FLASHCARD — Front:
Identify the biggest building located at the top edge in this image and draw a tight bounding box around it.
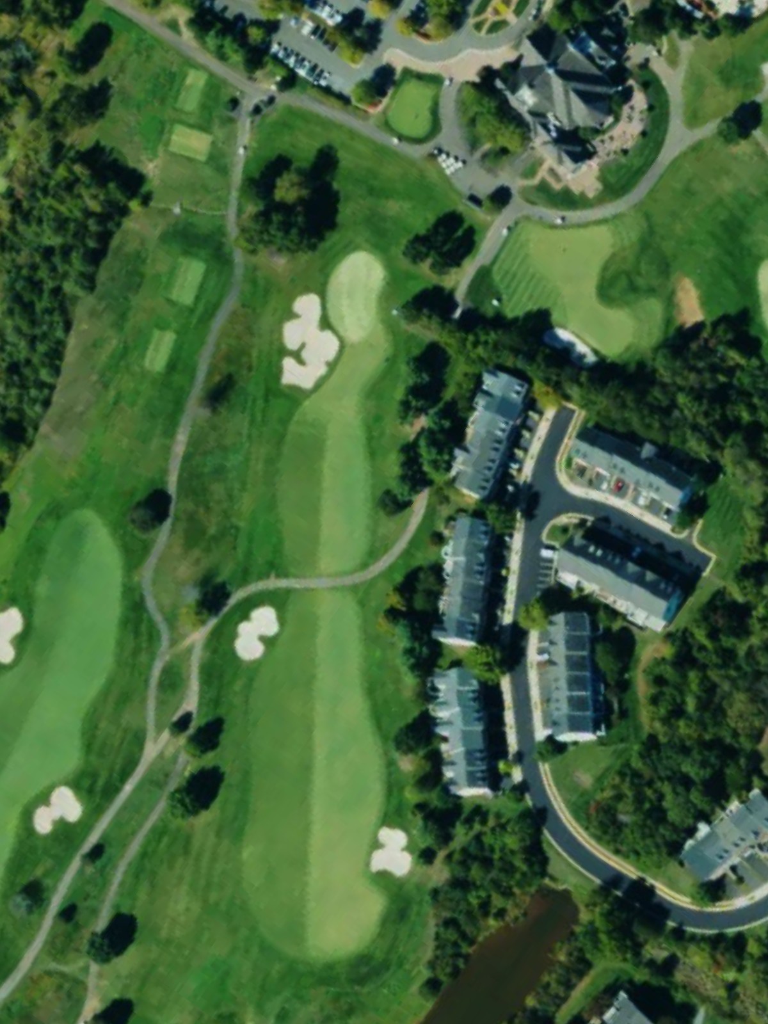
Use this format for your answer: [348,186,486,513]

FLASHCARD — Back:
[512,31,627,181]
